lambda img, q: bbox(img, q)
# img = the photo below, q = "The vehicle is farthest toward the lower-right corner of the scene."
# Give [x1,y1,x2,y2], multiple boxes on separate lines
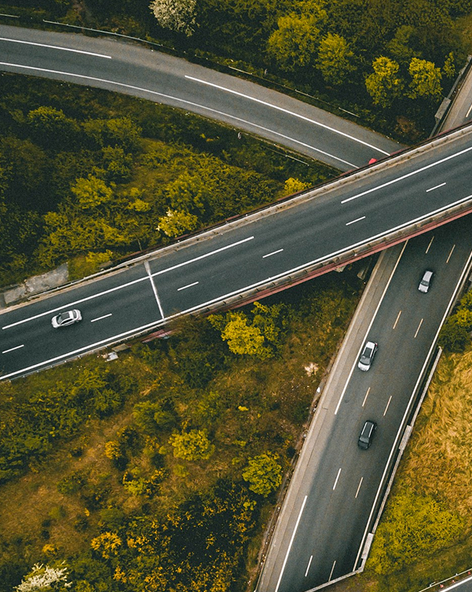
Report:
[355,420,375,450]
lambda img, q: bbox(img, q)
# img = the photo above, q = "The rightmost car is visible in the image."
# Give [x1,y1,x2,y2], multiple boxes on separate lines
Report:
[417,270,433,294]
